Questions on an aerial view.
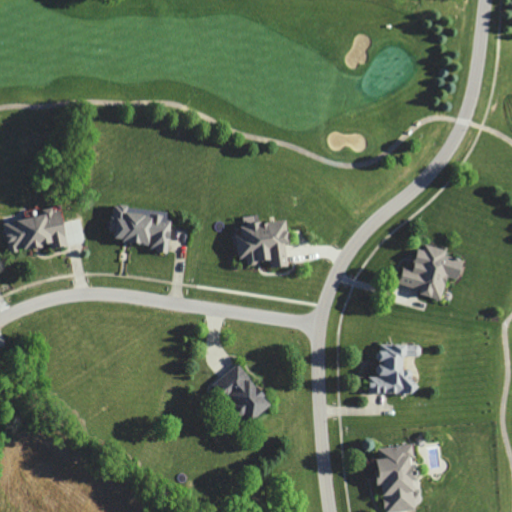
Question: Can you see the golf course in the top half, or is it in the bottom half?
top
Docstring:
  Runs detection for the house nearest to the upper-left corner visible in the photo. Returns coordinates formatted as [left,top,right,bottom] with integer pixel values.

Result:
[4,205,67,252]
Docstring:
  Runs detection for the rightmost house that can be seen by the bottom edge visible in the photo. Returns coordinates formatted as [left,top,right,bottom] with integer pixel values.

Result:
[376,444,422,512]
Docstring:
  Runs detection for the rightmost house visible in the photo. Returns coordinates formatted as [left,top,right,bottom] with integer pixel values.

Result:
[401,244,466,299]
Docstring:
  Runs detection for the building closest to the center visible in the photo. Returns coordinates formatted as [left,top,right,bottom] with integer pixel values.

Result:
[235,214,290,268]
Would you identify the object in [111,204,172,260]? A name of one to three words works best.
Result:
house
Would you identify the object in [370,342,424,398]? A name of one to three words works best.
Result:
house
